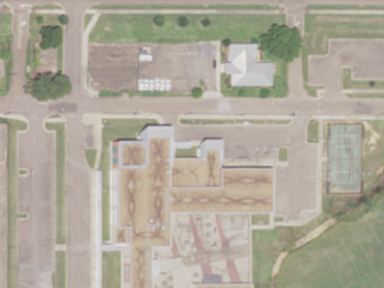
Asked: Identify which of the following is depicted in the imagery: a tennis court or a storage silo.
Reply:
tennis court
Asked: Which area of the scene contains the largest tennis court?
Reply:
right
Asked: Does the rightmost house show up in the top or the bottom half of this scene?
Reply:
top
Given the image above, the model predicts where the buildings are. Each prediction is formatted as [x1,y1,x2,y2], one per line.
[224,43,275,86]
[108,125,275,288]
